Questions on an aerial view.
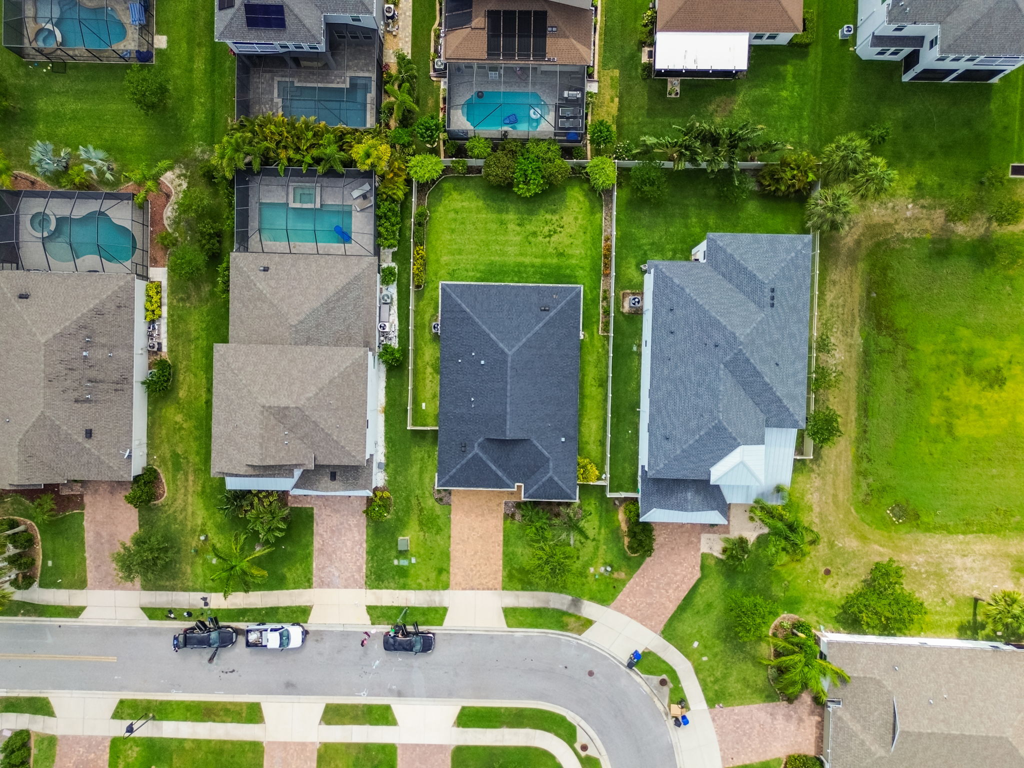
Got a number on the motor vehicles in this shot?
3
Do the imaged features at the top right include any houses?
Yes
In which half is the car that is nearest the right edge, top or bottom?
bottom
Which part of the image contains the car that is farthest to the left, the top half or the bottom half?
bottom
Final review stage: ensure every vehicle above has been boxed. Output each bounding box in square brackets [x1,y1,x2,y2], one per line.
[384,620,436,654]
[171,613,238,662]
[244,623,309,651]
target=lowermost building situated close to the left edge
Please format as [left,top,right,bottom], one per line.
[0,270,148,490]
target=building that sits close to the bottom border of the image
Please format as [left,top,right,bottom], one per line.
[818,633,1024,768]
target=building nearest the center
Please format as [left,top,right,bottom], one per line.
[435,281,584,502]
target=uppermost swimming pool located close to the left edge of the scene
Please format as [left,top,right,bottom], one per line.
[30,0,127,51]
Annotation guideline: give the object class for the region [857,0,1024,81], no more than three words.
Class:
house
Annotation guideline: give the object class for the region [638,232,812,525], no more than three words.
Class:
house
